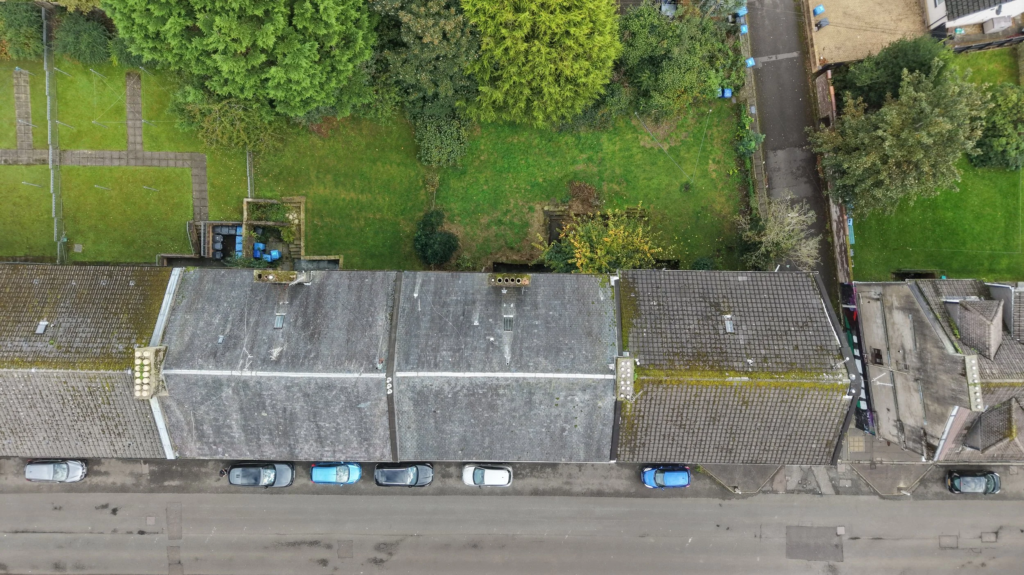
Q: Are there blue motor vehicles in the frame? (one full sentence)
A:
Yes, a blue motor vehicle can be made out from above.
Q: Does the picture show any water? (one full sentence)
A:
No, there is no water in the image.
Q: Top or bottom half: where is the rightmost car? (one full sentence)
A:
Seen from above, the rightmost car lies in the bottom half of the view.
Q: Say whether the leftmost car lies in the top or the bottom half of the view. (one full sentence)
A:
The leftmost car sits in the bottom half of the picture.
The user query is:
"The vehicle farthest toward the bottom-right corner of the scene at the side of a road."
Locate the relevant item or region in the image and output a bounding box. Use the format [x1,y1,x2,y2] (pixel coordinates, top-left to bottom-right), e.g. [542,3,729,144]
[943,468,997,498]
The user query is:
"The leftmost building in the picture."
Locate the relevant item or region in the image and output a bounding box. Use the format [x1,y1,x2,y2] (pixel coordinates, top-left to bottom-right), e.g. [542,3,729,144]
[0,263,184,460]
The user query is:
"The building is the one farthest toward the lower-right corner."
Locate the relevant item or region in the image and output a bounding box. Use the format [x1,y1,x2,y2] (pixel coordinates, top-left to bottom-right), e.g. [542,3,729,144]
[840,276,1024,461]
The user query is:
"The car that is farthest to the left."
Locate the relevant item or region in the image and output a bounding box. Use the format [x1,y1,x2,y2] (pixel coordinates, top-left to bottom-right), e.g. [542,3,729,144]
[24,459,90,487]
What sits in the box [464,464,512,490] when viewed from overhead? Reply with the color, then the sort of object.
white car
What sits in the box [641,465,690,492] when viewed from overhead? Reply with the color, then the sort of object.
blue car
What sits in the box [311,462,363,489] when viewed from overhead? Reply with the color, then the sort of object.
blue car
